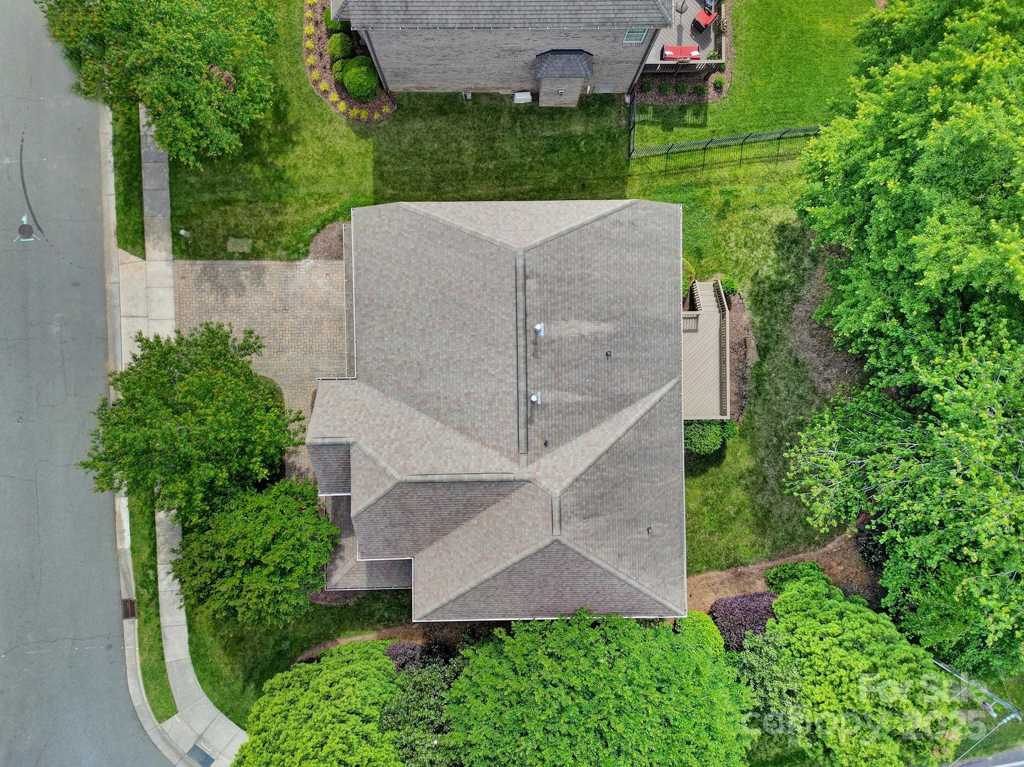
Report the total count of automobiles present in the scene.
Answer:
none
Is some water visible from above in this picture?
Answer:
No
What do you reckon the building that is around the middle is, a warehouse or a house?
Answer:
house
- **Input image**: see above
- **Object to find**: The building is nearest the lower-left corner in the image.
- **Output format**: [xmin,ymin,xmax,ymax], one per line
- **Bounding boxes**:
[307,198,689,623]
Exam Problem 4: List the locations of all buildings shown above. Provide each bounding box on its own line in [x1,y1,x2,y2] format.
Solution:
[307,198,689,623]
[329,0,676,106]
